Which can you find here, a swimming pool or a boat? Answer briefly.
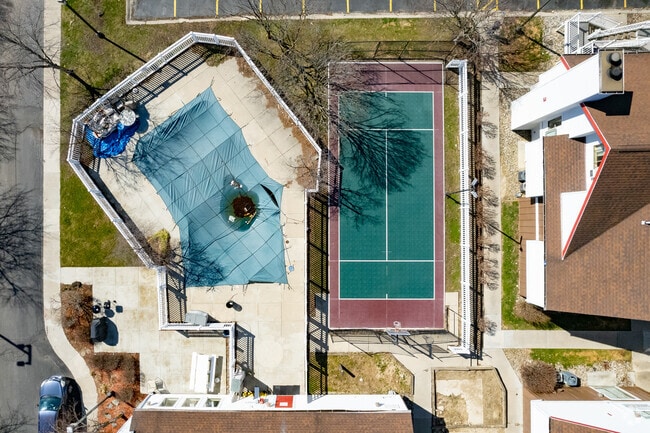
swimming pool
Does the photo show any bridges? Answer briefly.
No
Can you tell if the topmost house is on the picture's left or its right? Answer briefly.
right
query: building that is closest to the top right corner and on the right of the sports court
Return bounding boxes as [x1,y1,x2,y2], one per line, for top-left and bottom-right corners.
[512,48,650,320]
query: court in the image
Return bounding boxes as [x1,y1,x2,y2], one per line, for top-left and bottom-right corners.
[329,61,445,330]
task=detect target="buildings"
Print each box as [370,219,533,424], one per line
[512,48,650,320]
[110,392,414,433]
[523,384,650,433]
